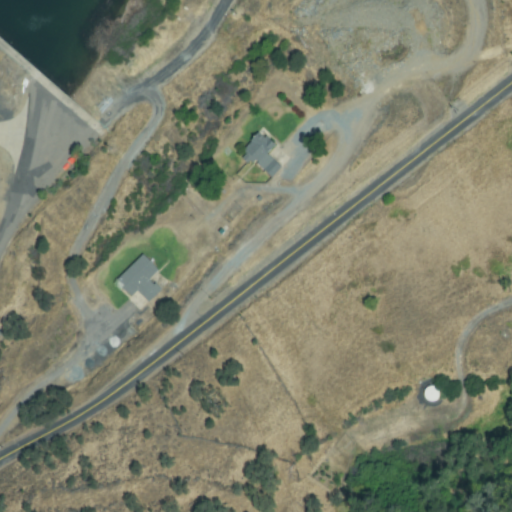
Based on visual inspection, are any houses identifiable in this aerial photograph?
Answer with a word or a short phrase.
Yes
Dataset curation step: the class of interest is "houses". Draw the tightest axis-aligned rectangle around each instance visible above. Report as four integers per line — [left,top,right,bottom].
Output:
[118,254,160,301]
[238,132,282,176]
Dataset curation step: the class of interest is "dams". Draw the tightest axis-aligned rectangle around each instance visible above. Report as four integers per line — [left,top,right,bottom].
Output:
[0,38,104,134]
